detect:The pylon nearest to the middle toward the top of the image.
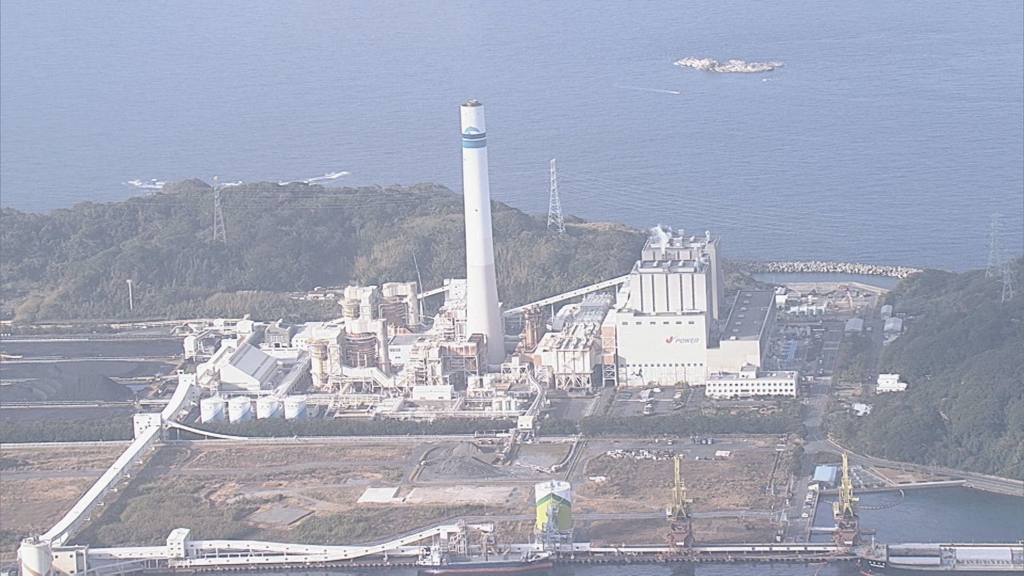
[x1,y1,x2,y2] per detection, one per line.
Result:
[546,158,564,236]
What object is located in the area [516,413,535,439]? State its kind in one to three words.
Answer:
house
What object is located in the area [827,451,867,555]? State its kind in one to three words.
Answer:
crane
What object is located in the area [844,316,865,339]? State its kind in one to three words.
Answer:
shed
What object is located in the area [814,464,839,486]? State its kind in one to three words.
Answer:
shed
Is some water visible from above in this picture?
Yes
